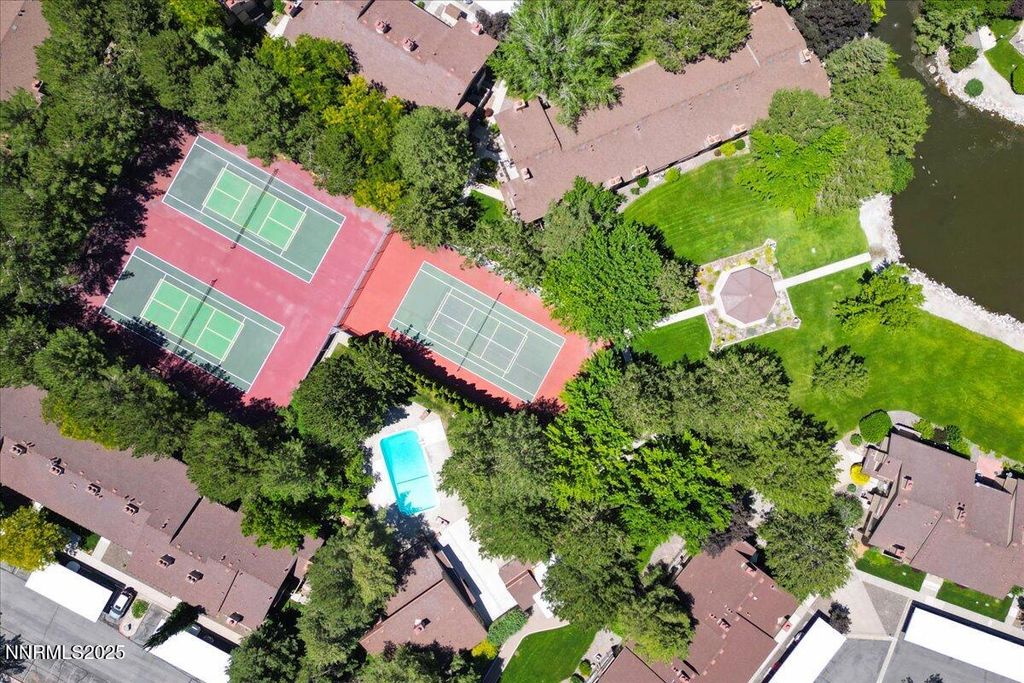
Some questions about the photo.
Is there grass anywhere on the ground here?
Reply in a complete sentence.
Yes, some grass is visible.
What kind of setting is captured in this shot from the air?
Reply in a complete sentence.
What you see here is a residential area.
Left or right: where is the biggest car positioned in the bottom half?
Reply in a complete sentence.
The biggest car positioned in the bottom half sits on the left side.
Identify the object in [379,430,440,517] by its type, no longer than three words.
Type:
swimming pool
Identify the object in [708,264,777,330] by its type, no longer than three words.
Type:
gazebo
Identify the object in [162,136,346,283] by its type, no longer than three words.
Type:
tennis court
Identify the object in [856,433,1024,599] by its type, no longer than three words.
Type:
house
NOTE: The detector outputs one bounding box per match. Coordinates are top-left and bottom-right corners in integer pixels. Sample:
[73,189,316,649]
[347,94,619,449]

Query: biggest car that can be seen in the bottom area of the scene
[107,588,133,622]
